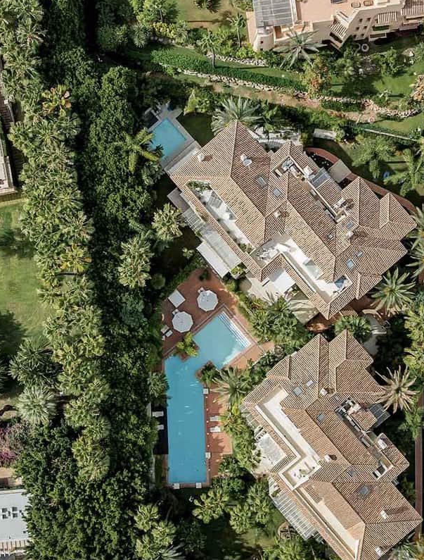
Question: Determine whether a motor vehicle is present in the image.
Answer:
No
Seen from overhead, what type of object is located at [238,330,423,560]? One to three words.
house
